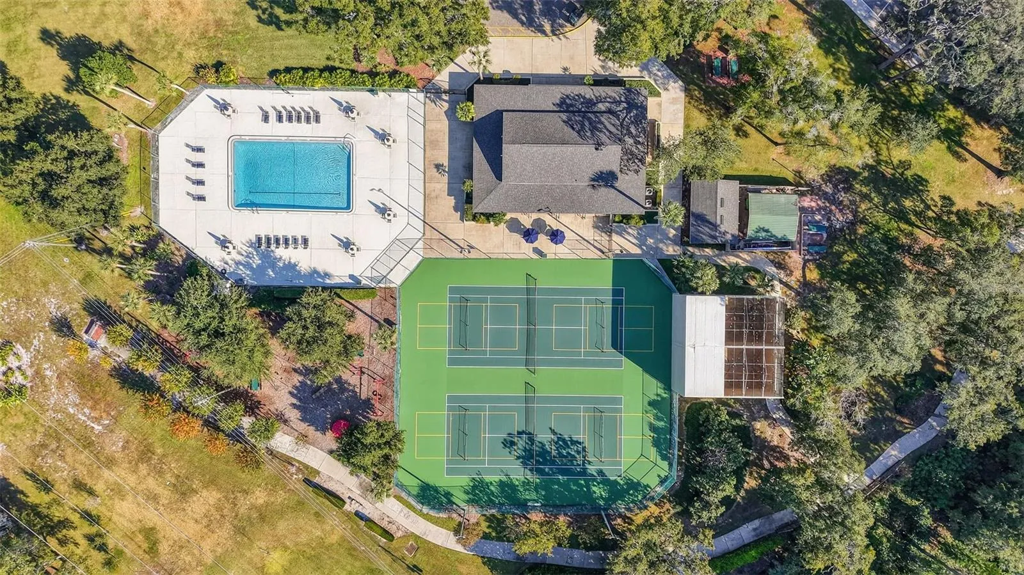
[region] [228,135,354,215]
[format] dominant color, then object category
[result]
blue swimming pool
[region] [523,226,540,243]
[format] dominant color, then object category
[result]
blue umbrella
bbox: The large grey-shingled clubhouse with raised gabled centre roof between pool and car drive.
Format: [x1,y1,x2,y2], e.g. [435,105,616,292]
[473,85,647,213]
